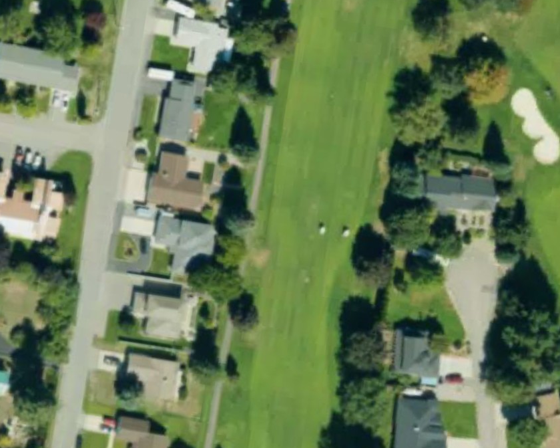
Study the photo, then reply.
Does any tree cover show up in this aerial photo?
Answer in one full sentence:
Yes, tree cover shows up in the scene.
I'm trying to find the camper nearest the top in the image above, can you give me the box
[165,0,195,17]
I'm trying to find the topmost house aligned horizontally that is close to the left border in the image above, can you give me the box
[0,44,79,88]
